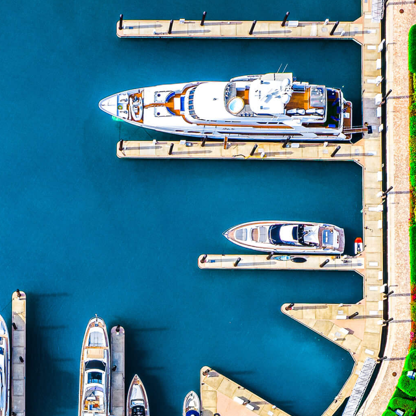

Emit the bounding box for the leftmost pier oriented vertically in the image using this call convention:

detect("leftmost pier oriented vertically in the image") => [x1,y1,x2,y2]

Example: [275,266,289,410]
[11,290,26,416]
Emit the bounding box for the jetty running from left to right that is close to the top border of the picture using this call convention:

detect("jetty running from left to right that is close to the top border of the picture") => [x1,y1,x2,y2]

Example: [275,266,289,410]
[116,16,361,49]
